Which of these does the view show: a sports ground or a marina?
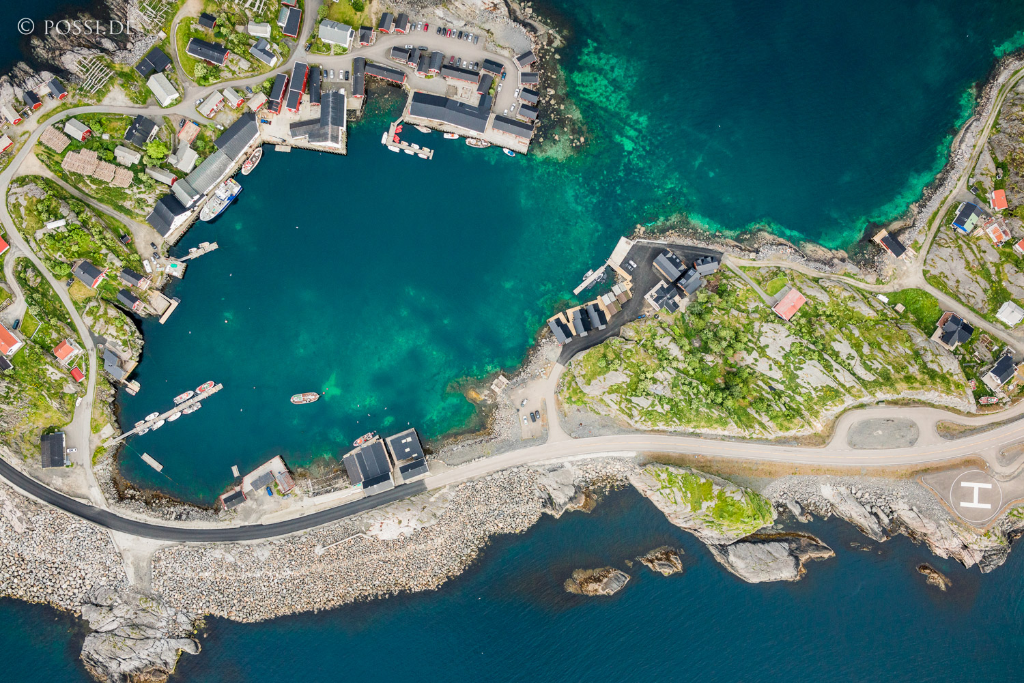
marina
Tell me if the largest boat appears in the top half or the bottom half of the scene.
top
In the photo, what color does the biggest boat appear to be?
white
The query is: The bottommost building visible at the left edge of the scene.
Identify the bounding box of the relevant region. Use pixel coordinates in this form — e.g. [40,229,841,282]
[42,432,70,468]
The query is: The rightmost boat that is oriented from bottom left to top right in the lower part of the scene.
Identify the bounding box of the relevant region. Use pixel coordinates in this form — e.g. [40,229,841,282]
[354,432,373,446]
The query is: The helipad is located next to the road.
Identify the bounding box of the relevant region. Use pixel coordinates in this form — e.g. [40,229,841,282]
[922,470,1024,527]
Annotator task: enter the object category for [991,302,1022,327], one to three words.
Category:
house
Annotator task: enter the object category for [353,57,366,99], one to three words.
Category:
building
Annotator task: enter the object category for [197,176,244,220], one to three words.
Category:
boat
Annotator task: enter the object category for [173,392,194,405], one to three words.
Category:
boat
